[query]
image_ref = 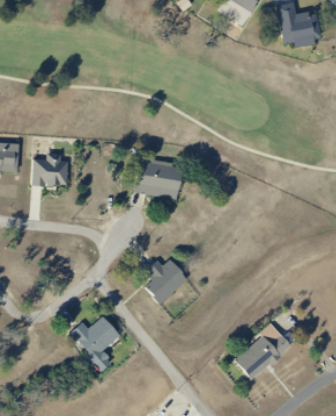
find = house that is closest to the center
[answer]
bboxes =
[136,160,182,200]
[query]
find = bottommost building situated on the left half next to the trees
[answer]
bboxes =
[73,316,120,371]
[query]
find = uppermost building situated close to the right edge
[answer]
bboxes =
[282,0,322,46]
